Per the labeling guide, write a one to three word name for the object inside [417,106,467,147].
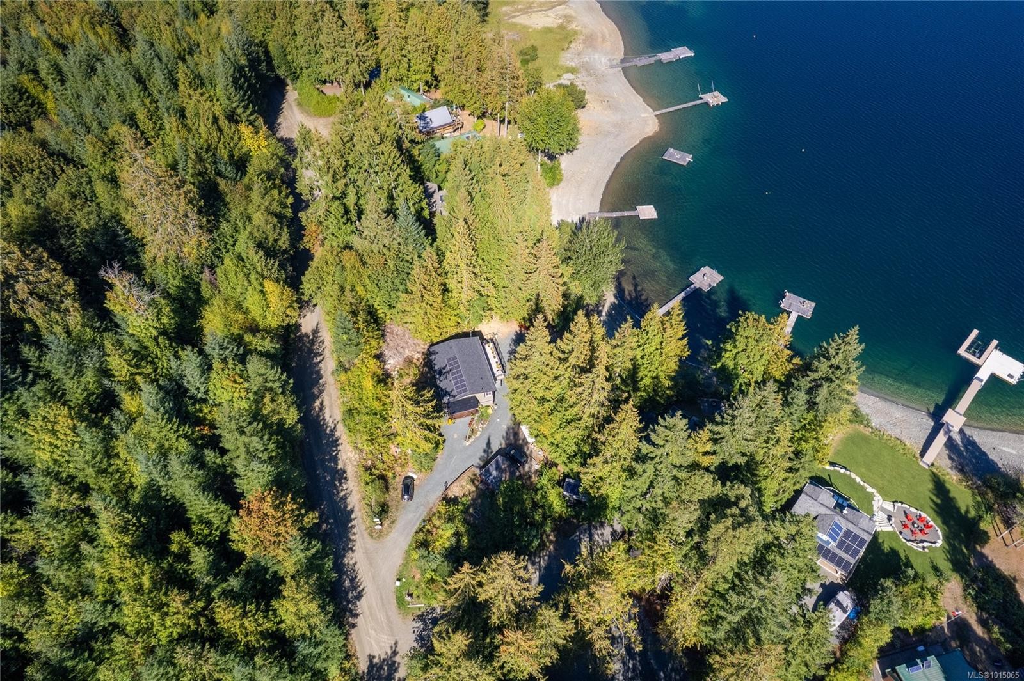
building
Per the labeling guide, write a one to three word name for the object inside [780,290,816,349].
pier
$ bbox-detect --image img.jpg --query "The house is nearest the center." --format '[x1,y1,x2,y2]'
[429,337,510,423]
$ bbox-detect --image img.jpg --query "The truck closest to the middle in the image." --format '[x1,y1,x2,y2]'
[503,443,536,470]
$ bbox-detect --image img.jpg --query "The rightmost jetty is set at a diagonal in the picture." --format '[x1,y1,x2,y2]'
[920,329,1024,469]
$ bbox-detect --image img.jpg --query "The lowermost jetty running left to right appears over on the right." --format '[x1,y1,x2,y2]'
[588,204,658,221]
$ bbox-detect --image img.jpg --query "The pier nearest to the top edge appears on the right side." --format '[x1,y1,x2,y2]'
[614,46,695,68]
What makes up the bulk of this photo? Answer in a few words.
trees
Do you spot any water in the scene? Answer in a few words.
Yes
